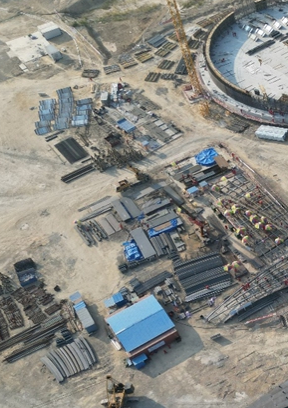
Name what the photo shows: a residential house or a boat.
residential house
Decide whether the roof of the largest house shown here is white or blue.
blue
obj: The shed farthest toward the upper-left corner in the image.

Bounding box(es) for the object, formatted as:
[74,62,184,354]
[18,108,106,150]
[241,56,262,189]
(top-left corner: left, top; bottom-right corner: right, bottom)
[37,23,63,41]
